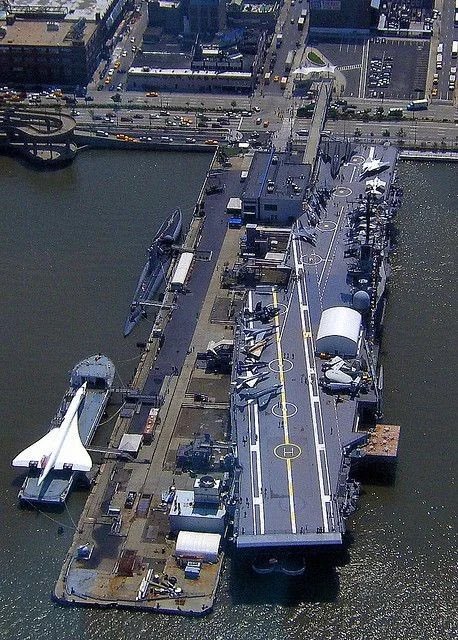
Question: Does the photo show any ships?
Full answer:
Yes, there's a ship here.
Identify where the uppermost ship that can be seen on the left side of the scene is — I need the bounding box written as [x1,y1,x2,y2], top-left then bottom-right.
[122,208,177,336]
